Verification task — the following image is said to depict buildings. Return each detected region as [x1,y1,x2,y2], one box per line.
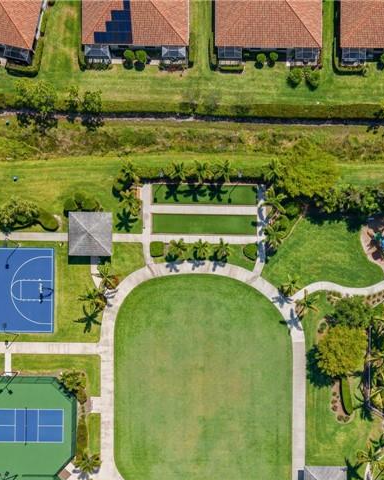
[340,0,384,73]
[215,0,322,73]
[81,0,189,71]
[304,466,347,480]
[0,0,45,72]
[68,211,114,257]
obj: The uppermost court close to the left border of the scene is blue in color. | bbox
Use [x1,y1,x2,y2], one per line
[0,248,54,332]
